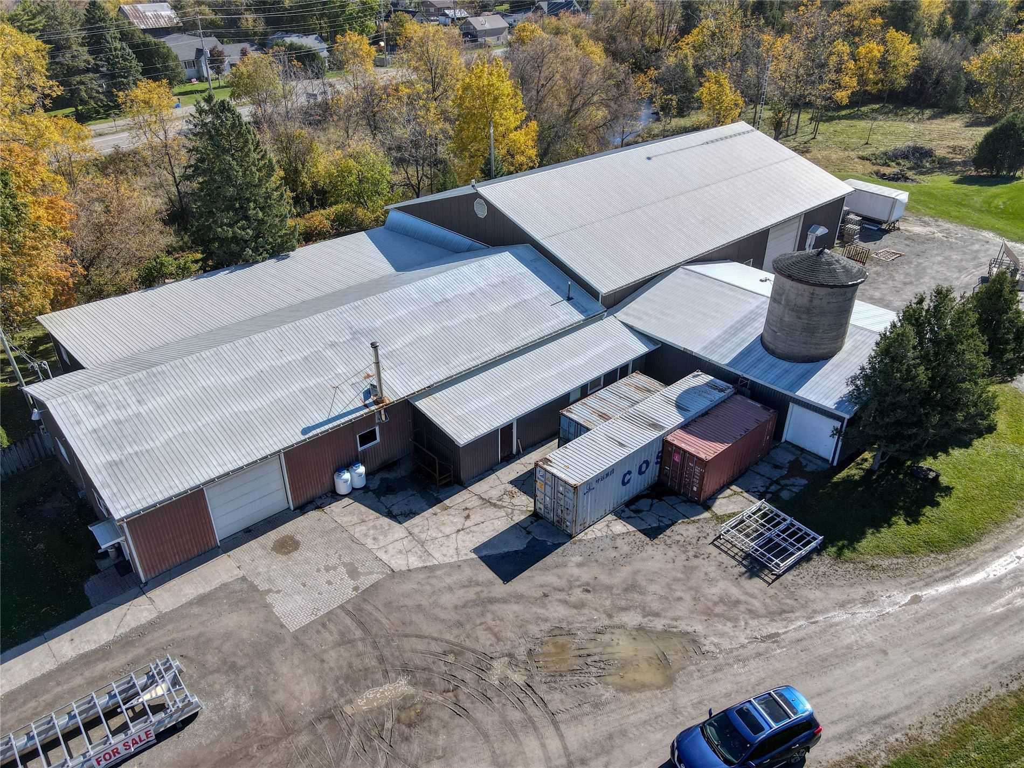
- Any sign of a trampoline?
No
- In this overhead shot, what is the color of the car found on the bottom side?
blue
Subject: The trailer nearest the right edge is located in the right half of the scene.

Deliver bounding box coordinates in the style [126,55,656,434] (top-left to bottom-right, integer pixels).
[837,178,912,241]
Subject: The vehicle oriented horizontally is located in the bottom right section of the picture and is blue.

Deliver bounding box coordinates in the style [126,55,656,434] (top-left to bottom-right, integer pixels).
[668,691,828,768]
